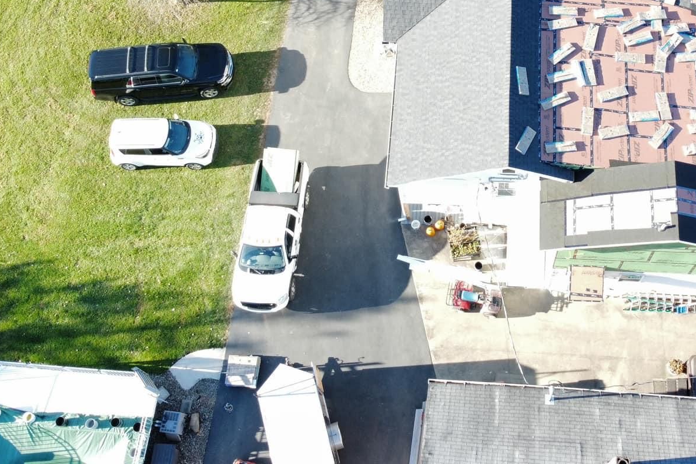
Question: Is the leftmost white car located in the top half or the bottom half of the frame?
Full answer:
The leftmost white car is in the top half of the image.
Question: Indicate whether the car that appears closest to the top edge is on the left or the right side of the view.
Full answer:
It is on the left.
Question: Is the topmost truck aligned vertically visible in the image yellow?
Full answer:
No, the topmost truck aligned vertically is actually white.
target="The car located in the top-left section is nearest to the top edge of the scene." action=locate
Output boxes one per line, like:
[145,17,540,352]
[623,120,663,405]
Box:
[88,37,239,106]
